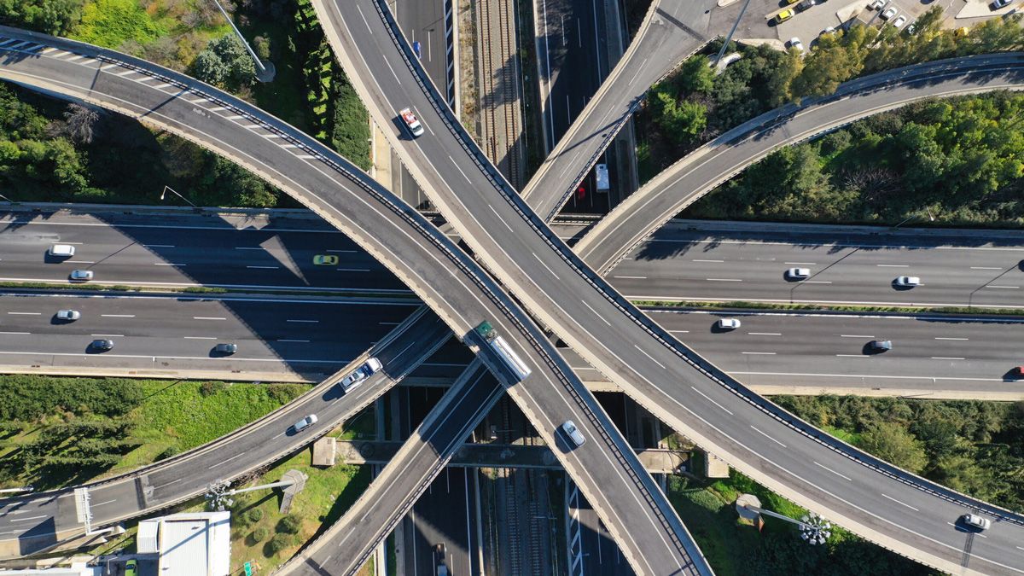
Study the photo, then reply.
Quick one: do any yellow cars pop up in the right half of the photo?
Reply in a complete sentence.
Yes, a yellow car is visible in the right half of the photo.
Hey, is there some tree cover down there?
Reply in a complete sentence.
Yes, there is tree cover in the image.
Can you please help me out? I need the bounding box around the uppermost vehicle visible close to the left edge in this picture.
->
[49,244,75,256]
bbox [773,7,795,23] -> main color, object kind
yellow car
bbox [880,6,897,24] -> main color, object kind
white car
